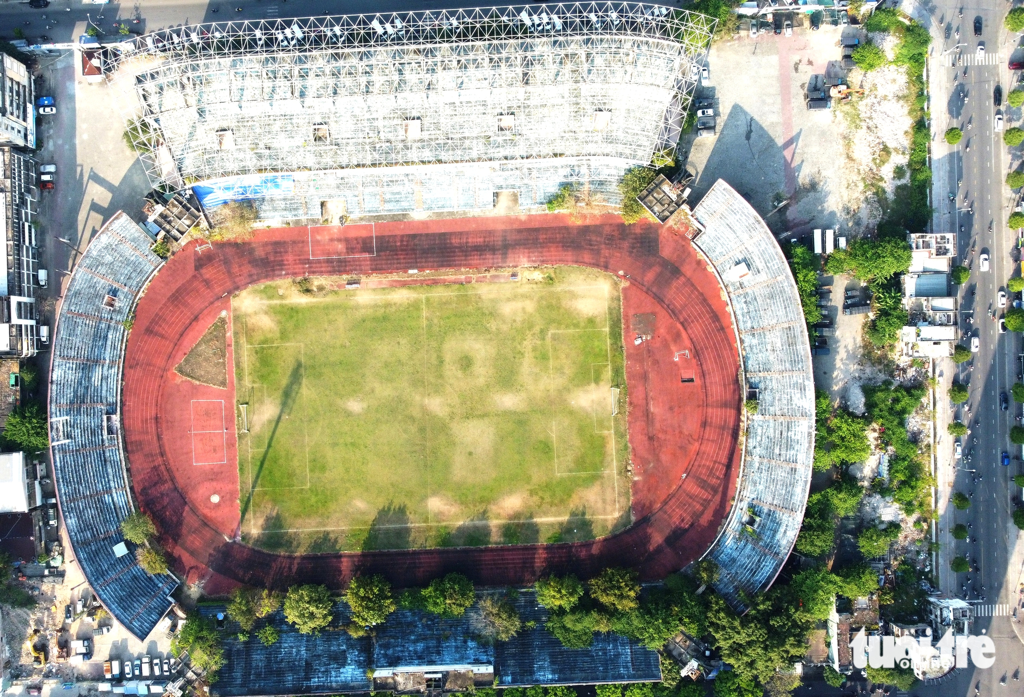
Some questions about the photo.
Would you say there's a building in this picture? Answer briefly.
Yes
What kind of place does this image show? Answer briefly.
sports ground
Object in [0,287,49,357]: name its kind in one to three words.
building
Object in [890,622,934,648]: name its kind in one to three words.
house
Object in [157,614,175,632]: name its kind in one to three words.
vehicle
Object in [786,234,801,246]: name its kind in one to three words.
vehicle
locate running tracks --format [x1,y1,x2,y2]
[124,211,742,597]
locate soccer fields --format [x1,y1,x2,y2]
[232,264,634,555]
